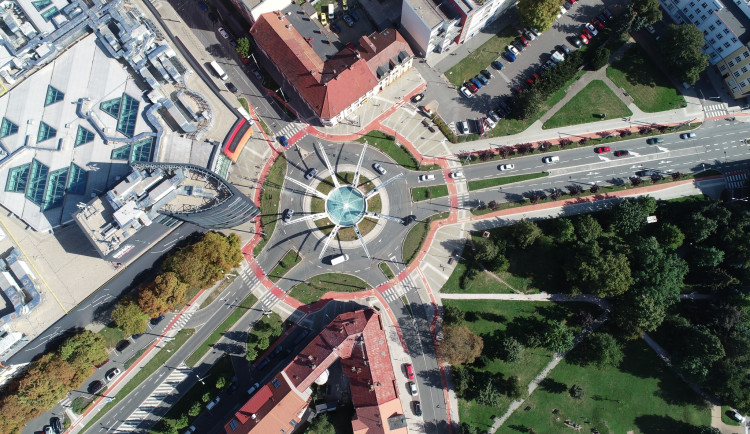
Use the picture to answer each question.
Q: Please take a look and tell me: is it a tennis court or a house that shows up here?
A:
house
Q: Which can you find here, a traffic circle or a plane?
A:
traffic circle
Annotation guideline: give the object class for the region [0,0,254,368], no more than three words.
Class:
building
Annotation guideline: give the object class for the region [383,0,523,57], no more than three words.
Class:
building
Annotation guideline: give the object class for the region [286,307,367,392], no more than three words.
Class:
house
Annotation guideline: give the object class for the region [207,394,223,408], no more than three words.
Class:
vehicle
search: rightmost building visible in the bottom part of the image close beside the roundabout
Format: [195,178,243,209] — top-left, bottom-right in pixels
[342,307,399,407]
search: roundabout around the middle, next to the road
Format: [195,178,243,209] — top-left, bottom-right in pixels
[286,149,406,267]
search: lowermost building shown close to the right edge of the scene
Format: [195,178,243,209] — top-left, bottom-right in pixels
[711,40,750,111]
